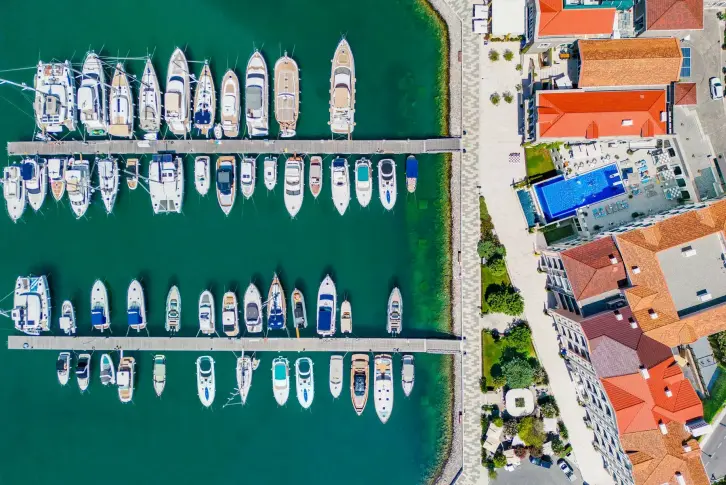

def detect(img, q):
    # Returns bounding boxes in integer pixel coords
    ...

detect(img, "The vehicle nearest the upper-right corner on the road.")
[710,79,722,99]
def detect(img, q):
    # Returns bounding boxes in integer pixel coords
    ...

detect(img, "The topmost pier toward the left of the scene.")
[7,138,463,156]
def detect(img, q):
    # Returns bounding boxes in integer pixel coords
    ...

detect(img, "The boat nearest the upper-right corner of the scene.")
[402,153,419,201]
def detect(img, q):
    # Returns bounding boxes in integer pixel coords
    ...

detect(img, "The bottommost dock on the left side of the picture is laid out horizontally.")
[8,335,462,352]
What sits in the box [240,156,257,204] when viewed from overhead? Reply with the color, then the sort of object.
white boat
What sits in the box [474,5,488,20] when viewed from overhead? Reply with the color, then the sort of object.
white umbrella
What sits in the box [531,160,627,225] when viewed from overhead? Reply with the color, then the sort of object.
blue swimming pool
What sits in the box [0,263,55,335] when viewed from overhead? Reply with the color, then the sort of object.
white boat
